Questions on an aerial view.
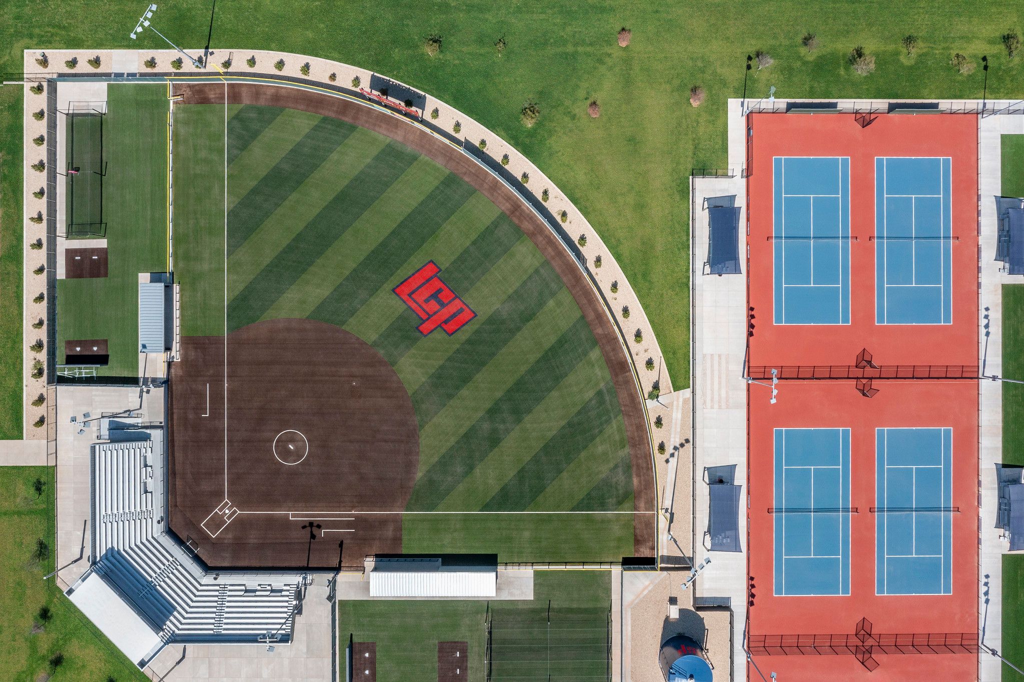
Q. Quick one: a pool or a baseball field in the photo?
baseball field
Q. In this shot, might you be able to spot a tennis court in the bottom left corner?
No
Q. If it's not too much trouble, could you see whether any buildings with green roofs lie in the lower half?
No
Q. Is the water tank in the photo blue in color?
Yes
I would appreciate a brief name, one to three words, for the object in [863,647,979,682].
tennis court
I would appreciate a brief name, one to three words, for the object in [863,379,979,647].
tennis court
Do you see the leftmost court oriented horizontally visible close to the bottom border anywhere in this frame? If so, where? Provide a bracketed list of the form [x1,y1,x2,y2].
[746,647,863,682]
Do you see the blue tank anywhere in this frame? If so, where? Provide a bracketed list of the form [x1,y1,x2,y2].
[658,634,714,682]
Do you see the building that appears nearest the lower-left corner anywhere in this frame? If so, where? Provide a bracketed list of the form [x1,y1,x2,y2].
[64,552,184,669]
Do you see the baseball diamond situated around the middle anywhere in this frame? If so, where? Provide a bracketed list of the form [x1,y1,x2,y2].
[167,82,656,570]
